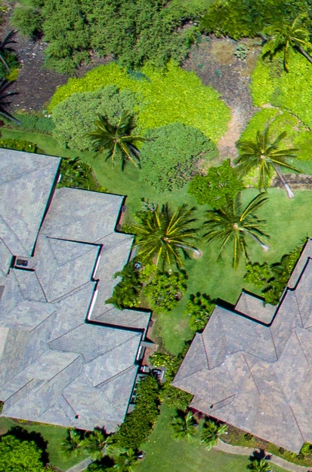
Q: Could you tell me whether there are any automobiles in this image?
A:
No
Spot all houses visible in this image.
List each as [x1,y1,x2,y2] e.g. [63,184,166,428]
[0,147,154,435]
[171,239,312,455]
